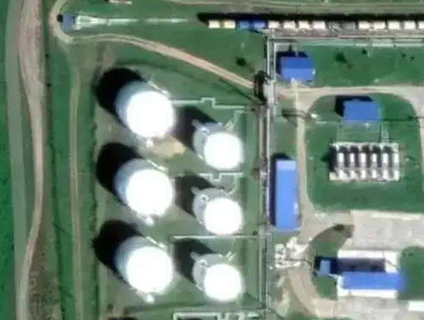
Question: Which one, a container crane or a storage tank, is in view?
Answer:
storage tank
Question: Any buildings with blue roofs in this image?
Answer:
Yes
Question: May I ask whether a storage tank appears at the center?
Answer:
Yes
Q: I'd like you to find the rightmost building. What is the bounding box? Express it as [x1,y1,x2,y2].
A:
[339,97,379,121]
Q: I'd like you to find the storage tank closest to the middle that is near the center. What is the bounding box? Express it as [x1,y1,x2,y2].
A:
[190,119,242,170]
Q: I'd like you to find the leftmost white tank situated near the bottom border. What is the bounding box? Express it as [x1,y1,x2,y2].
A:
[116,233,174,305]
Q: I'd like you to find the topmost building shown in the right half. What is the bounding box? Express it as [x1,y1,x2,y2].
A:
[275,53,313,80]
